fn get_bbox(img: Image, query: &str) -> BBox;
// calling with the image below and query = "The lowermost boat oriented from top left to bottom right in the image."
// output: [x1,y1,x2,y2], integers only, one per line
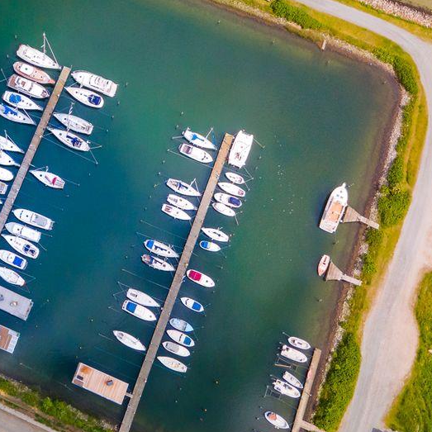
[262,409,289,430]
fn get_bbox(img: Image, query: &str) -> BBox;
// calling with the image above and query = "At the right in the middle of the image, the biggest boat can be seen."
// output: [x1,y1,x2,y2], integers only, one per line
[319,181,348,235]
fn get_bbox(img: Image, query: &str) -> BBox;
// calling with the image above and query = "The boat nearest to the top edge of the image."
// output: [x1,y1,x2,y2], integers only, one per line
[9,33,60,69]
